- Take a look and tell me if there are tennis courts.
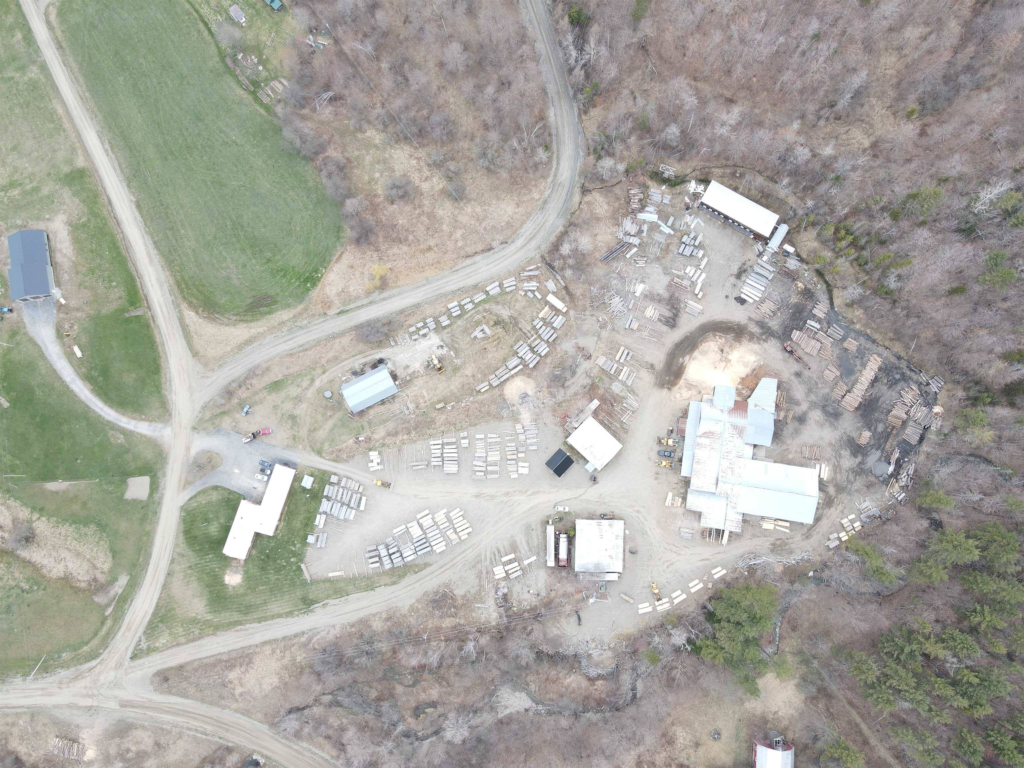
No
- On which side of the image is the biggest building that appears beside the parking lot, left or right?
left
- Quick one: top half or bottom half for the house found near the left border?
top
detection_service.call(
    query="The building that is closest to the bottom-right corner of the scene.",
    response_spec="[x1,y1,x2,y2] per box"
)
[755,729,794,768]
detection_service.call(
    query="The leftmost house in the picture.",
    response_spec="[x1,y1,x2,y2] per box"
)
[7,231,55,301]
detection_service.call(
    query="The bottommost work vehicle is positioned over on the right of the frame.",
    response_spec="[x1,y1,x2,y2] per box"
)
[650,583,663,605]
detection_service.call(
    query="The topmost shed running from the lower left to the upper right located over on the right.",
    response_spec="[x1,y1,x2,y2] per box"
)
[766,224,789,251]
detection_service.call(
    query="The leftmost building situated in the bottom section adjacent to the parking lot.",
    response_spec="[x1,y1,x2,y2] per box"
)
[223,464,297,560]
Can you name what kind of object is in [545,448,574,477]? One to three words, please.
building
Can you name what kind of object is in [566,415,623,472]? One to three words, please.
building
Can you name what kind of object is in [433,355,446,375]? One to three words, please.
vehicle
